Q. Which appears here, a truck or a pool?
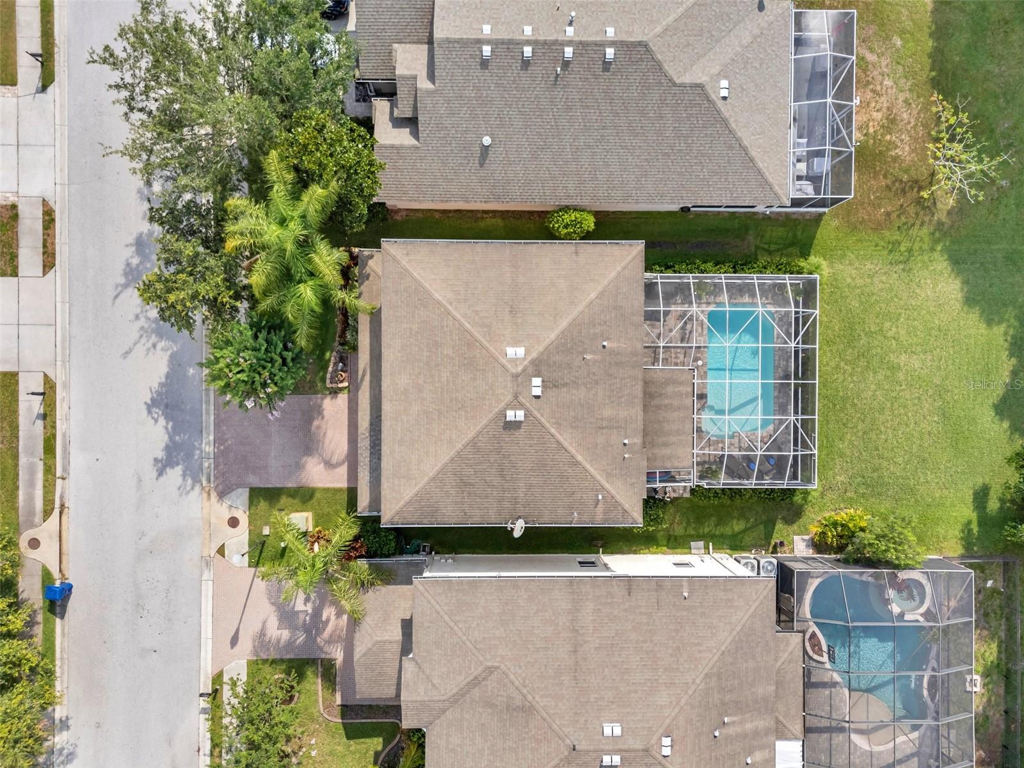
pool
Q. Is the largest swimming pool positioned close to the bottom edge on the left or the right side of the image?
right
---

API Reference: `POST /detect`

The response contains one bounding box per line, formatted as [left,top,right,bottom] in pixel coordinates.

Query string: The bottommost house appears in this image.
[352,546,806,768]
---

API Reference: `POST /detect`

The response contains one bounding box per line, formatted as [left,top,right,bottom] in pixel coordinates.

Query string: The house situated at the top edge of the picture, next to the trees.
[351,0,797,211]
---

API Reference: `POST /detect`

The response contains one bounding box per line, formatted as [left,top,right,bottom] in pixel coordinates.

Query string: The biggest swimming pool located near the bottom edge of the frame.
[804,571,944,753]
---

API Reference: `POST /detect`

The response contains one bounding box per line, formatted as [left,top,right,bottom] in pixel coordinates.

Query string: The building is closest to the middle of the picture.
[356,238,698,529]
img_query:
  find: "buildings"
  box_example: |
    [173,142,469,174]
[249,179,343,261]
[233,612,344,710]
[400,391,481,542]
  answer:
[351,0,797,211]
[356,238,698,529]
[352,546,806,768]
